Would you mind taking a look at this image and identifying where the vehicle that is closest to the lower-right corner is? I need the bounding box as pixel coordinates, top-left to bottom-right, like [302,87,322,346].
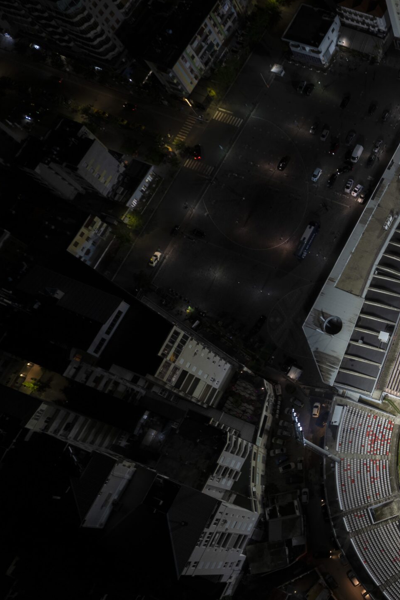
[360,585,374,600]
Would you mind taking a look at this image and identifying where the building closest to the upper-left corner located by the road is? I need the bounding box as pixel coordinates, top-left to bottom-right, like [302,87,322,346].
[0,0,135,70]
